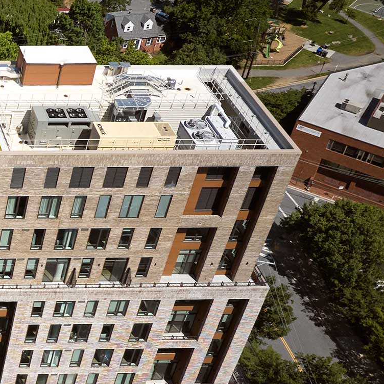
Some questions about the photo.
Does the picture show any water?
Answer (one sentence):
No, water can't be seen anywhere here.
